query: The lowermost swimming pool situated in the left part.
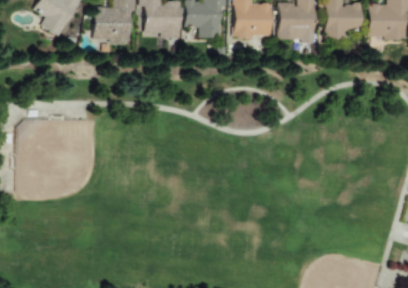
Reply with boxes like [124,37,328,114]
[79,34,100,53]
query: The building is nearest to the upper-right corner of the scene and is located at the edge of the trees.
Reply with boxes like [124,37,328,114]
[368,0,408,41]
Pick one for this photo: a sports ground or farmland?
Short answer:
sports ground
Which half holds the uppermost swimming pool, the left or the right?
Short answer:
left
